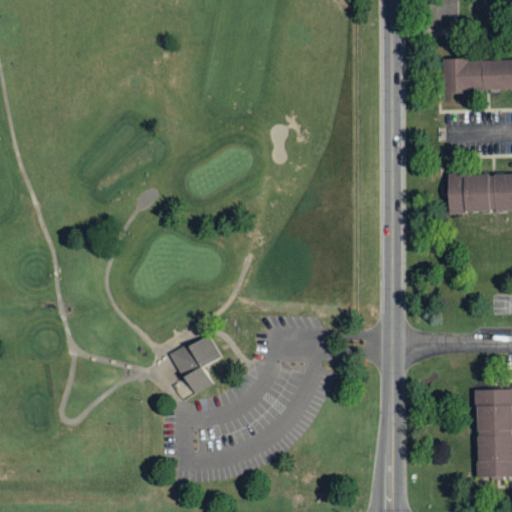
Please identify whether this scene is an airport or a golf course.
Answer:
golf course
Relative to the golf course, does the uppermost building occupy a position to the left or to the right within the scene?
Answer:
to the right of it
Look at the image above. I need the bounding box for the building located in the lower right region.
[474,390,512,478]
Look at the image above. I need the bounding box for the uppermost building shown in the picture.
[443,60,512,95]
